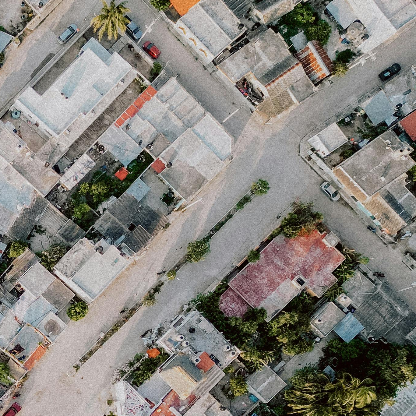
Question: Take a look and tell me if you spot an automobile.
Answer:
Yes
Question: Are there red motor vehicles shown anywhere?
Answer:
Yes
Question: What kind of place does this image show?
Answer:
residential area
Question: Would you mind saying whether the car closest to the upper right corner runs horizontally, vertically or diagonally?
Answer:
diagonally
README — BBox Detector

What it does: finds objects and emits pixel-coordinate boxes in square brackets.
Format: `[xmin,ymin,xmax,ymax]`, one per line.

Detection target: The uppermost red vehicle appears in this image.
[141,40,162,61]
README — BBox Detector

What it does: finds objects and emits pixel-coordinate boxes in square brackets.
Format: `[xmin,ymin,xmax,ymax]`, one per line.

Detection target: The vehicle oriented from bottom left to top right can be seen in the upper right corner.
[375,61,402,84]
